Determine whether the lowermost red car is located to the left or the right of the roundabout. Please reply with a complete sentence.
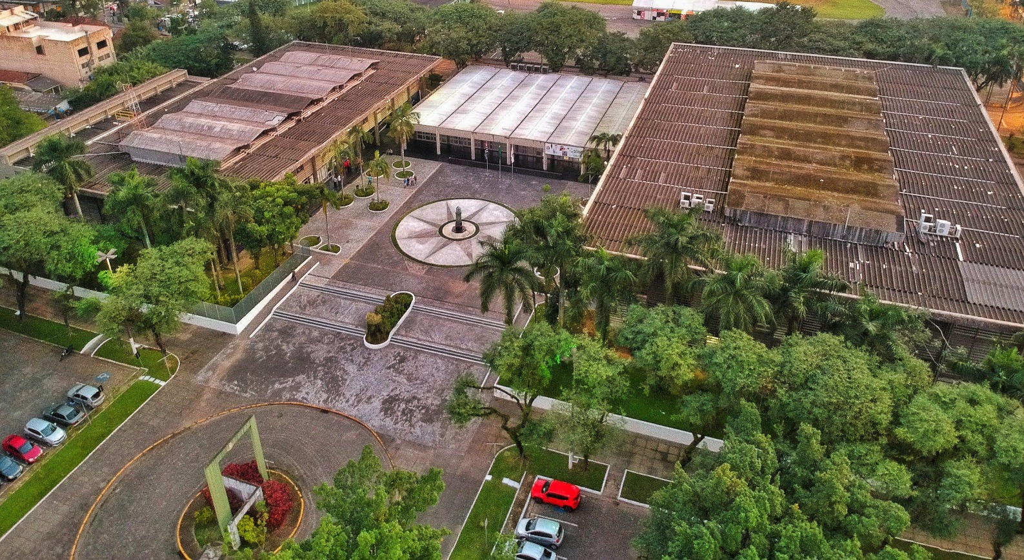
From the viewer's perspective, the lowermost red car falls to the right of the roundabout.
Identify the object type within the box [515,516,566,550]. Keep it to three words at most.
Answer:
car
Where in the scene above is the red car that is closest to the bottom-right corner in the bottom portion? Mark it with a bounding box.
[532,478,583,512]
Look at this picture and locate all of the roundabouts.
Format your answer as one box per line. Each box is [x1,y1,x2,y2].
[71,401,386,560]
